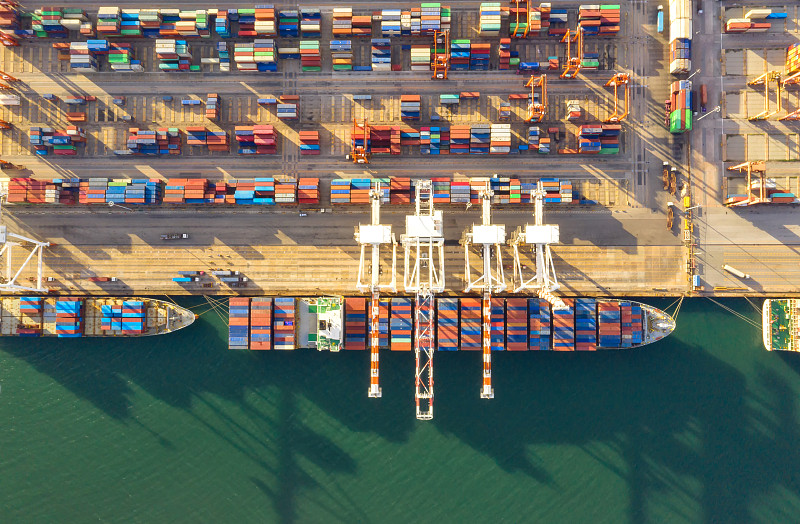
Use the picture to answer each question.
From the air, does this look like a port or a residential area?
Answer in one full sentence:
This looks like a port.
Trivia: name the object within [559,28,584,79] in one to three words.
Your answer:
container crane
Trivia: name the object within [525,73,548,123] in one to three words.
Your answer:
container crane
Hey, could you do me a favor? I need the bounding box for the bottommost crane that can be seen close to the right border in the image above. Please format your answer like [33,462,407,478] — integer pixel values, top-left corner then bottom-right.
[730,160,766,208]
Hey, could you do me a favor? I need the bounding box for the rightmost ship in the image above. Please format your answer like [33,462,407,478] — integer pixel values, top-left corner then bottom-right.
[760,298,800,351]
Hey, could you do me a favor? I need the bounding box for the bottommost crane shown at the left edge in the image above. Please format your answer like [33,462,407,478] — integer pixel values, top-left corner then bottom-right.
[0,226,59,292]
